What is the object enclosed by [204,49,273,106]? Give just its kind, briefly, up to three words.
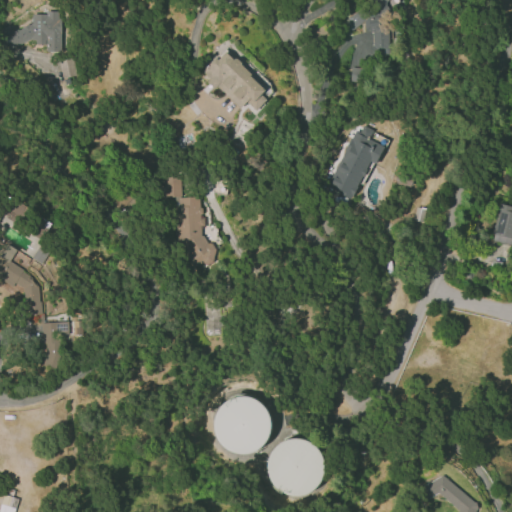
house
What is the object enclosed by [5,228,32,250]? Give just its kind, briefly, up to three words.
swimming pool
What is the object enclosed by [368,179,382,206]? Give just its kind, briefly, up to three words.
swimming pool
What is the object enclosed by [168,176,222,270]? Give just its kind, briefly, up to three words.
house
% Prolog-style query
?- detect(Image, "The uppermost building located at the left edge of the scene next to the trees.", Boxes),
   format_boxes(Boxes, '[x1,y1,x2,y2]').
[12,10,62,52]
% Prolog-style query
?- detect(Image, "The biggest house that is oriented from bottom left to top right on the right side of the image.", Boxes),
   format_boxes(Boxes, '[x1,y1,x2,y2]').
[331,124,392,196]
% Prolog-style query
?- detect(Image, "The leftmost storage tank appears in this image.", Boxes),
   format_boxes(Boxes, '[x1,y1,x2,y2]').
[214,396,272,454]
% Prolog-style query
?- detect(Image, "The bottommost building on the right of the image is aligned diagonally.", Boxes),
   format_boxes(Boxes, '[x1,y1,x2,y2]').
[427,474,484,512]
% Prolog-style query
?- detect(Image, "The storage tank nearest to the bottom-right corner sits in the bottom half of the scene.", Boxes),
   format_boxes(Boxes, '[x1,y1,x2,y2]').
[268,438,324,496]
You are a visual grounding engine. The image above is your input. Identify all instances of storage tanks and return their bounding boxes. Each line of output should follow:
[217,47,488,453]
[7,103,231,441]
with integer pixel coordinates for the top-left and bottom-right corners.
[268,438,324,496]
[214,396,272,454]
